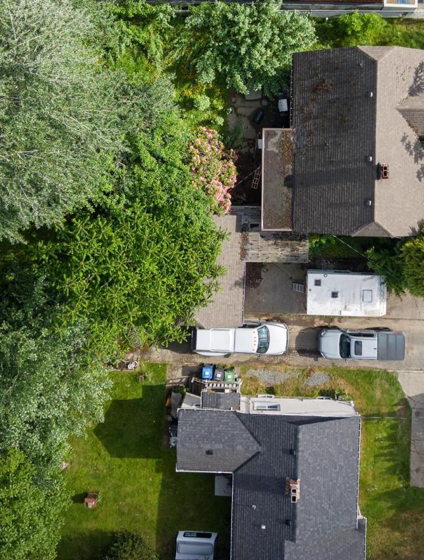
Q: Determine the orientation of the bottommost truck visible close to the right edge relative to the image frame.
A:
from left to right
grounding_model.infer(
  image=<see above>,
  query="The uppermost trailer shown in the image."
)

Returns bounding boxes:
[304,269,397,315]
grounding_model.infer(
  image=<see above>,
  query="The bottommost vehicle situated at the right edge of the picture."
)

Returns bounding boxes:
[316,324,404,364]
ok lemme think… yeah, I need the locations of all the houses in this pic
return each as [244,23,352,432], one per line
[261,42,424,242]
[173,377,369,560]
